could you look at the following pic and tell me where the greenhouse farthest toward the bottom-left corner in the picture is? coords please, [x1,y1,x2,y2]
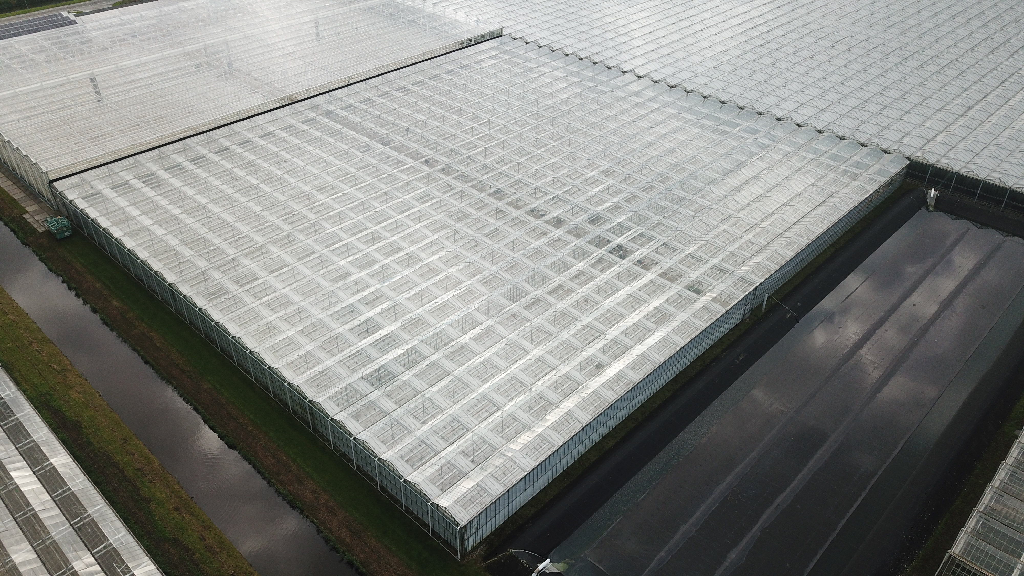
[0,365,165,576]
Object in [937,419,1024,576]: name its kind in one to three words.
greenhouse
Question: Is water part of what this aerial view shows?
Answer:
Yes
